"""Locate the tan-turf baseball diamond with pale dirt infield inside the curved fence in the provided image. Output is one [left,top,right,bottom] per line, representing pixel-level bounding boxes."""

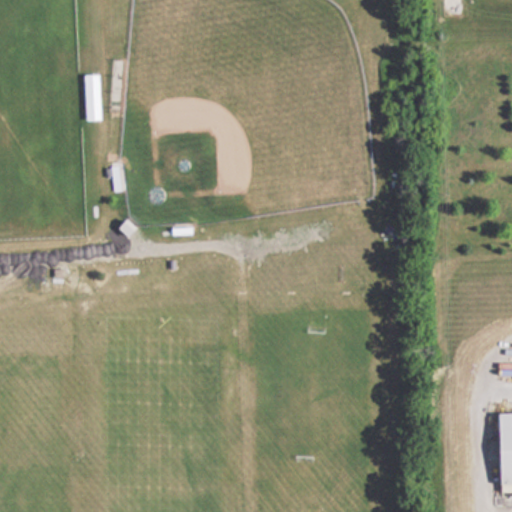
[122,0,374,226]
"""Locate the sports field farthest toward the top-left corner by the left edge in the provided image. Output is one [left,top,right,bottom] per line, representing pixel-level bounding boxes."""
[0,0,86,240]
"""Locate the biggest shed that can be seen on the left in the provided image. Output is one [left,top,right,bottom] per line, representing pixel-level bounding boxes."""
[84,73,104,122]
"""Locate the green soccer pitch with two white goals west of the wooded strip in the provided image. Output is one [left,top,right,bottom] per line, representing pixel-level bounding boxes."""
[252,311,372,512]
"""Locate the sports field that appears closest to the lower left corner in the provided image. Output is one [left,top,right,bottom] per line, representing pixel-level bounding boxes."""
[106,316,220,512]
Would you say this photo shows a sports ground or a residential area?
sports ground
